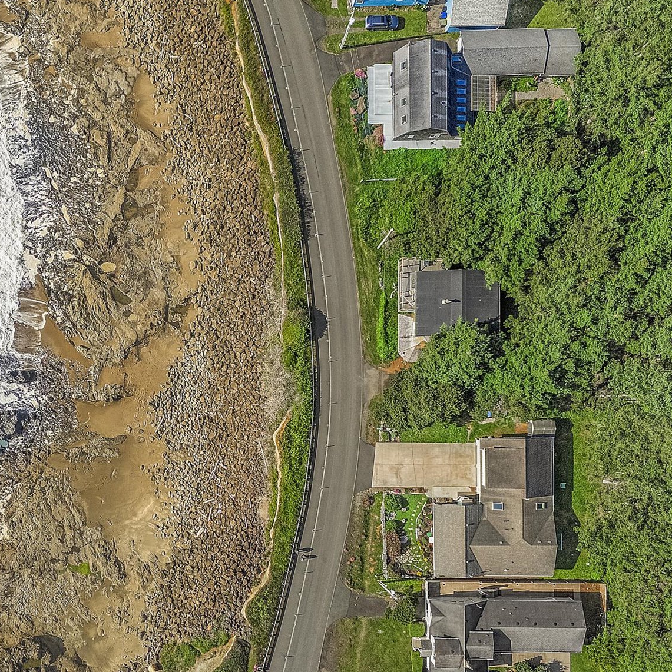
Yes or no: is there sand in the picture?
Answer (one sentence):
Yes, sand shows up in the scene.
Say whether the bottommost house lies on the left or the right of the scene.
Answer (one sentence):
The bottommost house appears in the right half of the scene.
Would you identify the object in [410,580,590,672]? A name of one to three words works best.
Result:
house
